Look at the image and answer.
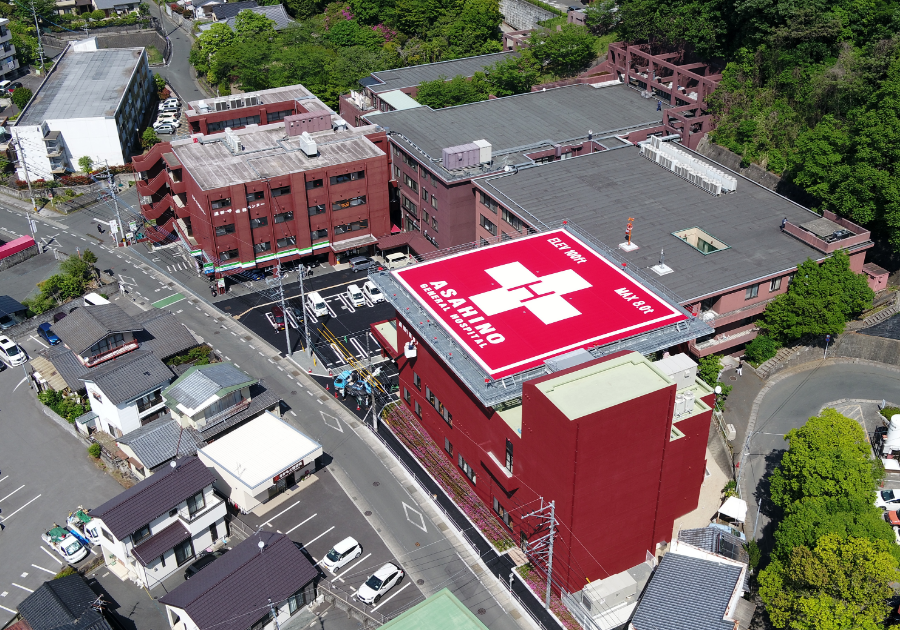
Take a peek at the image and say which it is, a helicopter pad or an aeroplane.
helicopter pad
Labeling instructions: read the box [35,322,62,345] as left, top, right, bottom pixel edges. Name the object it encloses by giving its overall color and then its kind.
blue car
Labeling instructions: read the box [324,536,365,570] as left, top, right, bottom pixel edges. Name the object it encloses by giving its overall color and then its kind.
white car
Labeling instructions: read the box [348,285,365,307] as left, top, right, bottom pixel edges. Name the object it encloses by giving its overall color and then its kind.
white car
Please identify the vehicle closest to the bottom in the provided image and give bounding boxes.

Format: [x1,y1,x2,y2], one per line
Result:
[359,562,404,603]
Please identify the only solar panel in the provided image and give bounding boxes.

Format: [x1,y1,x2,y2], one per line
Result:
[717,532,739,554]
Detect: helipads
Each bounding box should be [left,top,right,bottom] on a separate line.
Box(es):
[364,213,722,424]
